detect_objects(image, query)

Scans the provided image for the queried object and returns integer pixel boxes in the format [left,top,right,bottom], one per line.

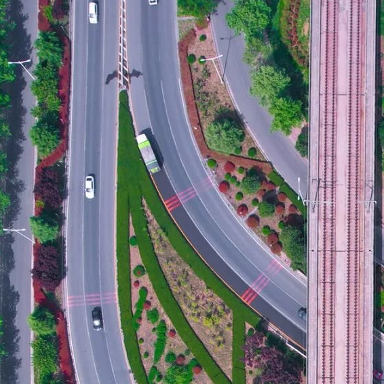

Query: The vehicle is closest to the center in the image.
[134,131,162,177]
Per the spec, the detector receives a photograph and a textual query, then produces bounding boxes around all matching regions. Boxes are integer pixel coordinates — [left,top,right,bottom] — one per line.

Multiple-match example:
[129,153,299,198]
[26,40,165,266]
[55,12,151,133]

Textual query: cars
[84,175,95,198]
[149,0,159,8]
[373,368,384,384]
[292,306,307,324]
[88,2,99,25]
[92,308,103,330]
